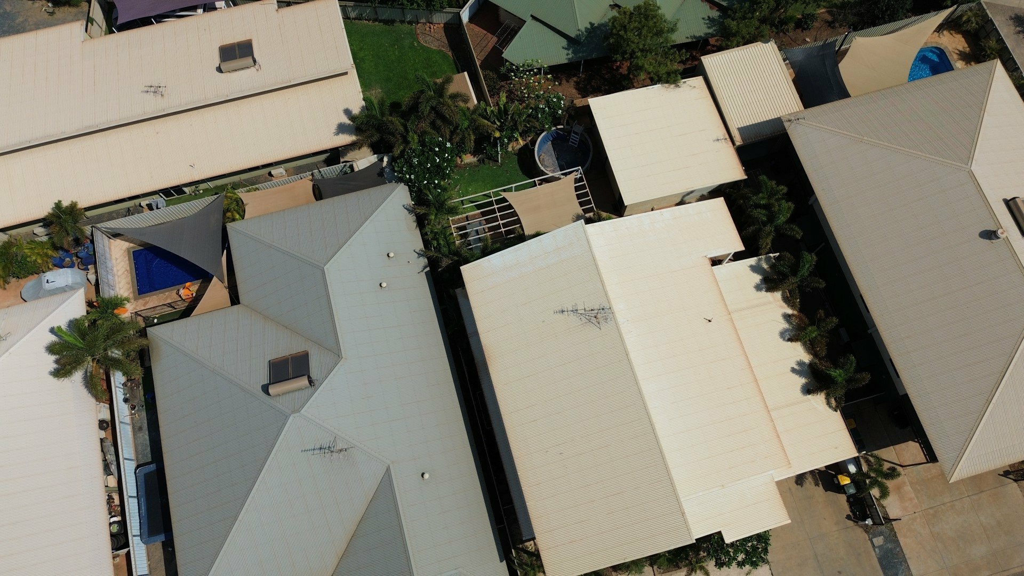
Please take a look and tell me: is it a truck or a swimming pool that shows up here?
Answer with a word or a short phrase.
swimming pool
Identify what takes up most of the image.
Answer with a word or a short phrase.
buildings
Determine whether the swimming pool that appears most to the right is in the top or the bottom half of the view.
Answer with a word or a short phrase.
top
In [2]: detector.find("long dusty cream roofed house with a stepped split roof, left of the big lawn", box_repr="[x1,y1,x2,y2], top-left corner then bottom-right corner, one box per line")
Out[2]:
[0,0,369,238]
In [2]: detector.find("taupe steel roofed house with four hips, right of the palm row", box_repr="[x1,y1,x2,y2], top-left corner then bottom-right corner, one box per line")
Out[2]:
[772,59,1024,482]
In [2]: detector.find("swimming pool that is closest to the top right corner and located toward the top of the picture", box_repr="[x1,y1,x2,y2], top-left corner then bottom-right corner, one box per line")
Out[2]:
[908,46,954,82]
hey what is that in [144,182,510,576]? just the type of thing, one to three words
house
